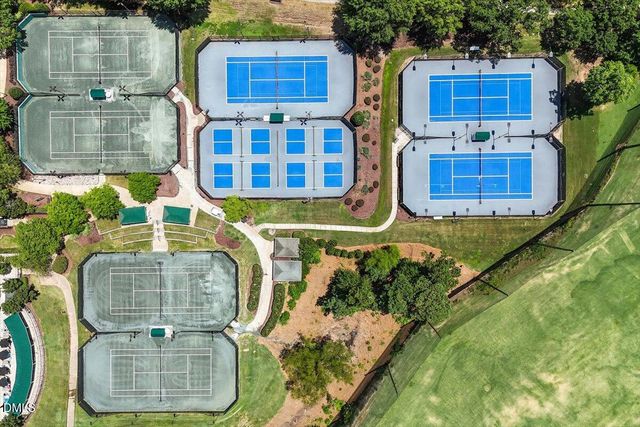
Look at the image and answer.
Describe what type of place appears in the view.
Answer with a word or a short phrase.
sports ground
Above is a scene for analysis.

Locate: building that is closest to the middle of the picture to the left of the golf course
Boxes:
[274,238,300,258]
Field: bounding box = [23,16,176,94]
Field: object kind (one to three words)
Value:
tennis court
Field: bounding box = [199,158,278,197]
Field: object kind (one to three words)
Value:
sports court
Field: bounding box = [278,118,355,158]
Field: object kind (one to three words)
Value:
sports court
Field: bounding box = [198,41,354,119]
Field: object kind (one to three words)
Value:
tennis court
